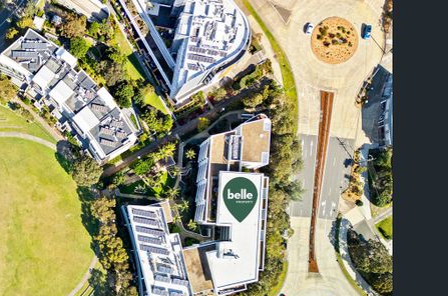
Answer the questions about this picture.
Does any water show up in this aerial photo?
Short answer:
No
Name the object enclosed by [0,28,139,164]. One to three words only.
building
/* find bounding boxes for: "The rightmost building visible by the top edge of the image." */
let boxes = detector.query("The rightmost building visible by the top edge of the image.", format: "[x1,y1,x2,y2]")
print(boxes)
[117,0,250,113]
